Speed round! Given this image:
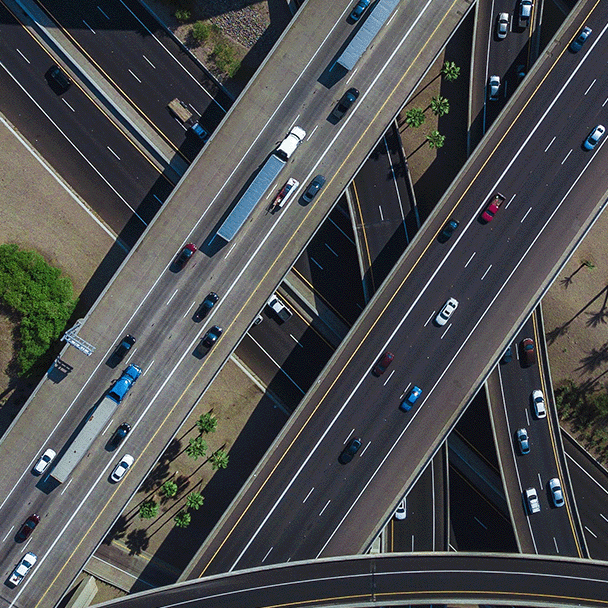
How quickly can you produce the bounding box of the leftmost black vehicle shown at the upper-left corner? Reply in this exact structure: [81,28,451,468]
[44,61,73,92]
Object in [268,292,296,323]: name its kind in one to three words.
truck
